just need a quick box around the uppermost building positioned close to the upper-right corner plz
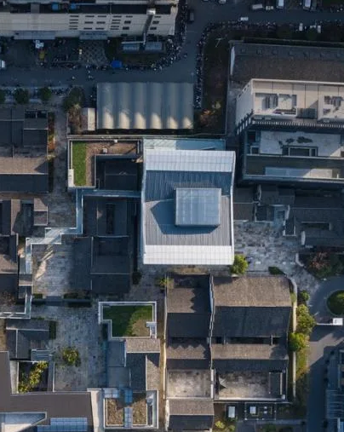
[223,42,344,91]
